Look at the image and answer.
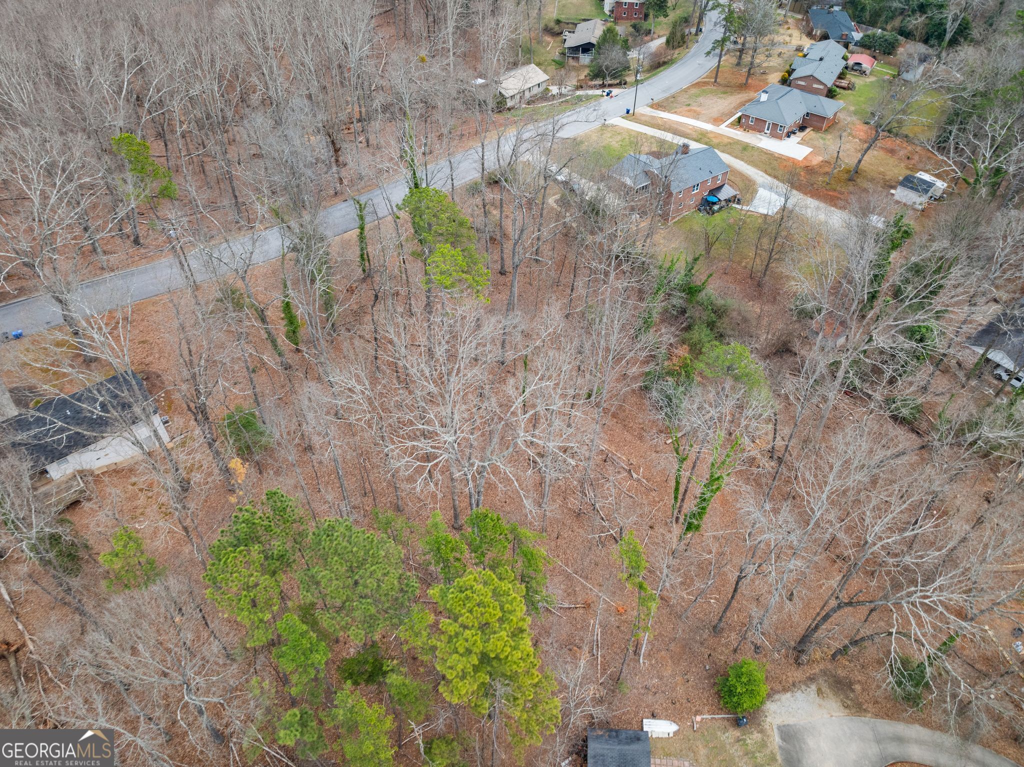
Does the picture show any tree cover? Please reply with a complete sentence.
Yes, tree cover can be seen from above here.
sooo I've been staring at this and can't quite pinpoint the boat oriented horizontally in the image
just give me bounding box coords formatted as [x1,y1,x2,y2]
[643,715,680,733]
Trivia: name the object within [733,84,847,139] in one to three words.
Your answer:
house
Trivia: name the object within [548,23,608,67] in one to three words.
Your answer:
house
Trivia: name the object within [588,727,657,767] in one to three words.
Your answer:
shed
